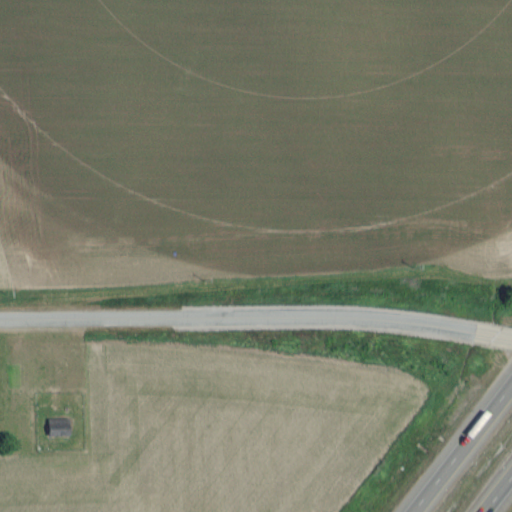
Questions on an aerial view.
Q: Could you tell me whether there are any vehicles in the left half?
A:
No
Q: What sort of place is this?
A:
farmland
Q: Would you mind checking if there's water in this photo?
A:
No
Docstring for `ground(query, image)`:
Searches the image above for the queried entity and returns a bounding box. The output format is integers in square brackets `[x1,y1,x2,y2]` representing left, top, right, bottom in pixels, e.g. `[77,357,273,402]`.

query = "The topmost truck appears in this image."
[462,411,491,444]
